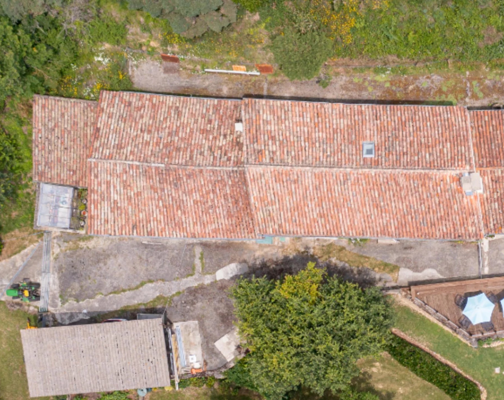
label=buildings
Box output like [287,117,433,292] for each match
[32,88,504,245]
[20,318,176,398]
